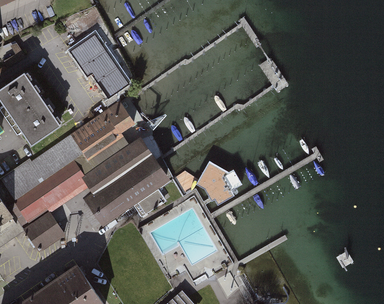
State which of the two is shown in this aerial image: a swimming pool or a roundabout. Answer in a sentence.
Looking from above, you can make out a swimming pool.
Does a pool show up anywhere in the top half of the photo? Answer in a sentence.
No, no pool is visible in the top half of the photo.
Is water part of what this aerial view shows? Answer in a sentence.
Yes, there is water in the image.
